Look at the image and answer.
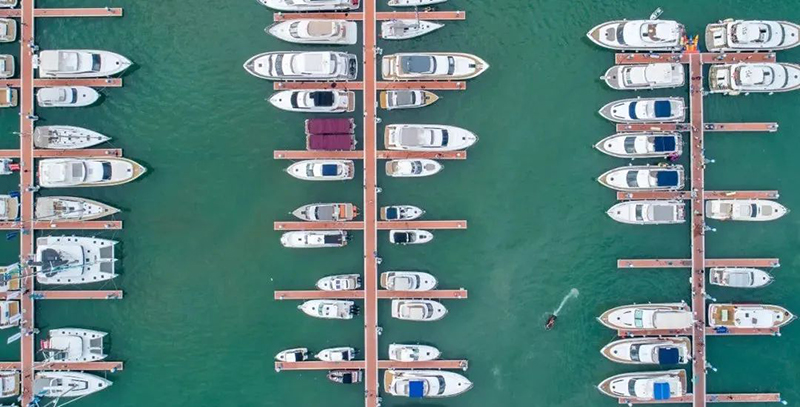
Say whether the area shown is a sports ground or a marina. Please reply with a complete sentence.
It's a marina.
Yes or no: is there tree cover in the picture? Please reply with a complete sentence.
No, there's no tree cover in this view.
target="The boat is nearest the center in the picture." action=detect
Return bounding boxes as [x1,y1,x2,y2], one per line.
[377,205,423,220]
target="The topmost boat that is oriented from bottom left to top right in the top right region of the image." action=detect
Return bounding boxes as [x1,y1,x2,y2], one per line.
[650,6,665,20]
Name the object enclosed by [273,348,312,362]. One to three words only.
boat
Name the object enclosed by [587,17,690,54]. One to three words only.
boat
